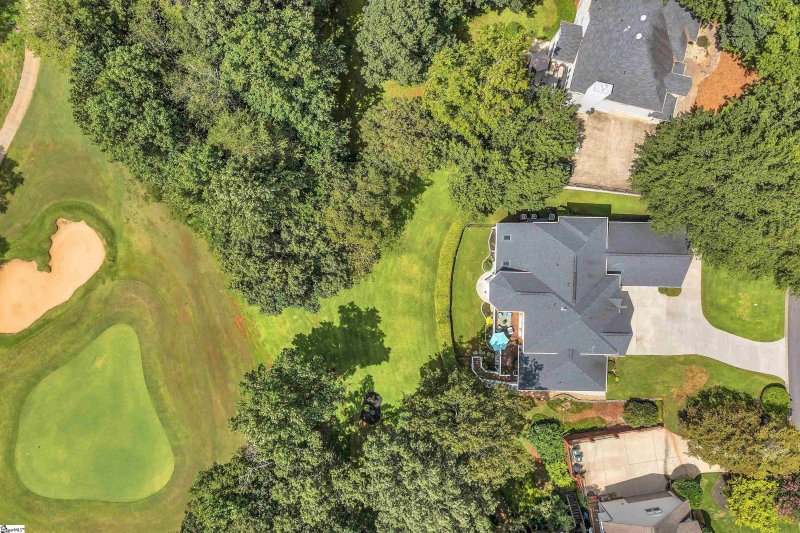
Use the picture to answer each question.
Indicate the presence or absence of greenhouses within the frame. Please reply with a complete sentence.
No, this view has no greenhouse in it.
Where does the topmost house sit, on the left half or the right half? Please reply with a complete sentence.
The topmost house sits on the right side.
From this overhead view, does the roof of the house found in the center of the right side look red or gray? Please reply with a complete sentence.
From above, the roof of the house found in the center of the right side appears gray.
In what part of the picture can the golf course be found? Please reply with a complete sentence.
The golf course is in the left part of the image.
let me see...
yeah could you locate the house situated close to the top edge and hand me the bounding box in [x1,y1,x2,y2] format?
[548,0,701,124]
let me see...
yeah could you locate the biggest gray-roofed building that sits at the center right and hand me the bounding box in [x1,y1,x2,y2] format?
[484,216,690,393]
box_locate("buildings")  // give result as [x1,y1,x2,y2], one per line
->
[484,216,690,393]
[591,491,702,533]
[548,0,701,124]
